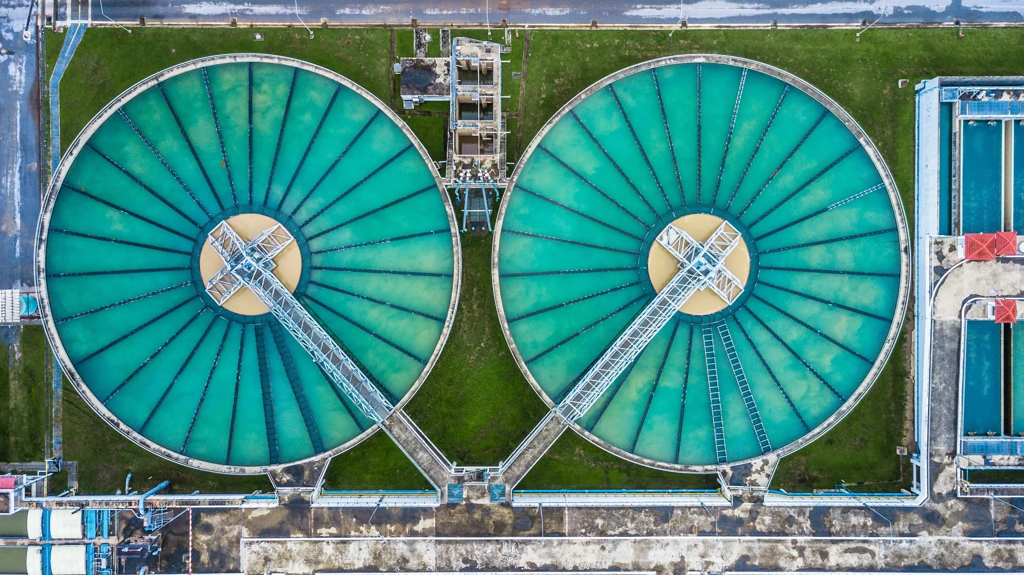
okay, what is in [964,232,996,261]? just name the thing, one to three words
shed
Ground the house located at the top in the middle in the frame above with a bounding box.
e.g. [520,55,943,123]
[401,57,449,99]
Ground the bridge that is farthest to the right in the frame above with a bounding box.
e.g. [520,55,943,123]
[554,219,745,423]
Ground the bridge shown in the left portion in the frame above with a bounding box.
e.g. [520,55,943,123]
[205,219,396,423]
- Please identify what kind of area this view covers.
industrial area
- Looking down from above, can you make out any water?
Yes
